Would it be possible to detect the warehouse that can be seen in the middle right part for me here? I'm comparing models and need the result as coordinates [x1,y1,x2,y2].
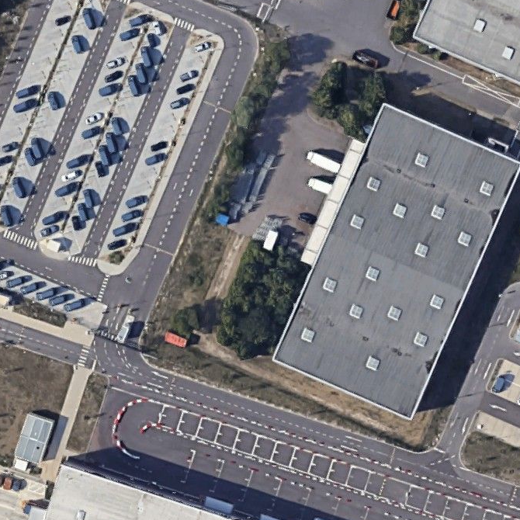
[273,104,520,419]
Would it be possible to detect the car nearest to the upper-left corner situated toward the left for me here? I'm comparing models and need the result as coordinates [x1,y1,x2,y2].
[54,14,73,27]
